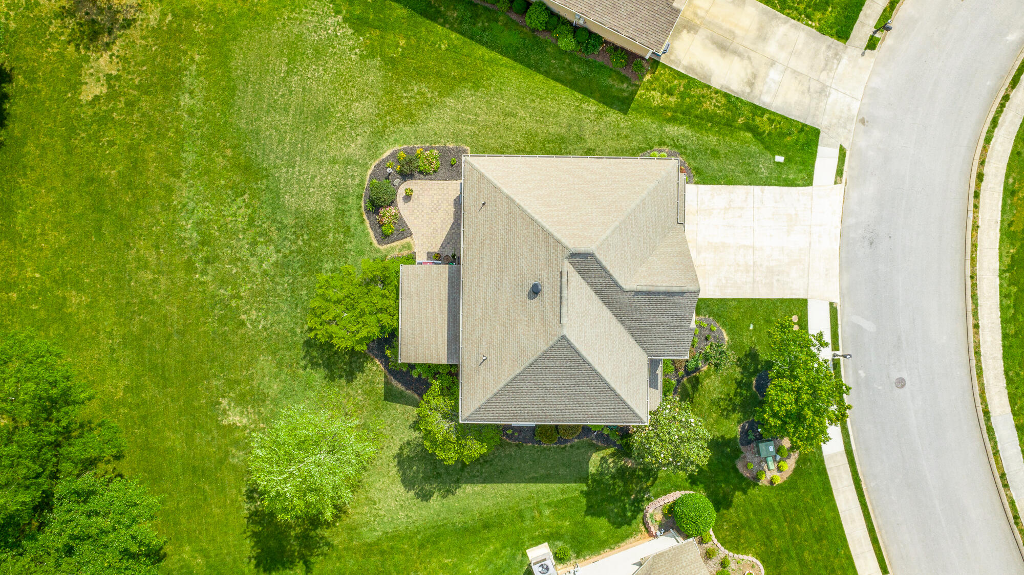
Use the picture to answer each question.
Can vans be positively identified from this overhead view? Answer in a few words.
No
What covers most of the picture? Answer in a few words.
grass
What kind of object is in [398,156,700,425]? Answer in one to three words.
house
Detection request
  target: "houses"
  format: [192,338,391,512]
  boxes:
[398,156,700,425]
[529,0,687,59]
[556,530,711,575]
